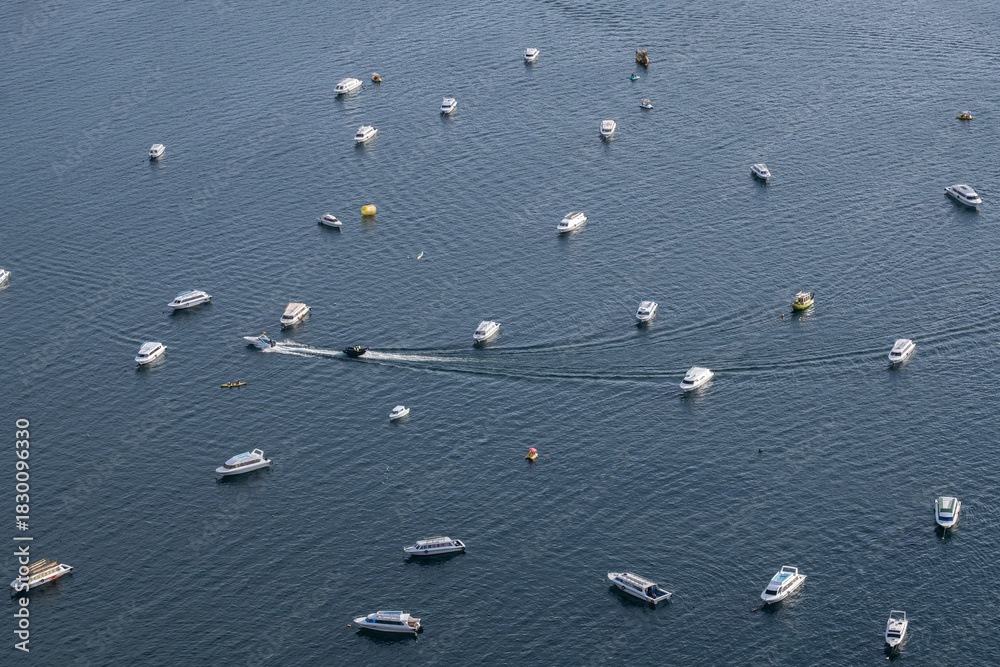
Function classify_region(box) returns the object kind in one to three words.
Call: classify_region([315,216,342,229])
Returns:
boat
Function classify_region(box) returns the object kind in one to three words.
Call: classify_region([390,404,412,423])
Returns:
boat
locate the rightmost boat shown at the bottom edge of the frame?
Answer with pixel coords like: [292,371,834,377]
[885,611,907,662]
